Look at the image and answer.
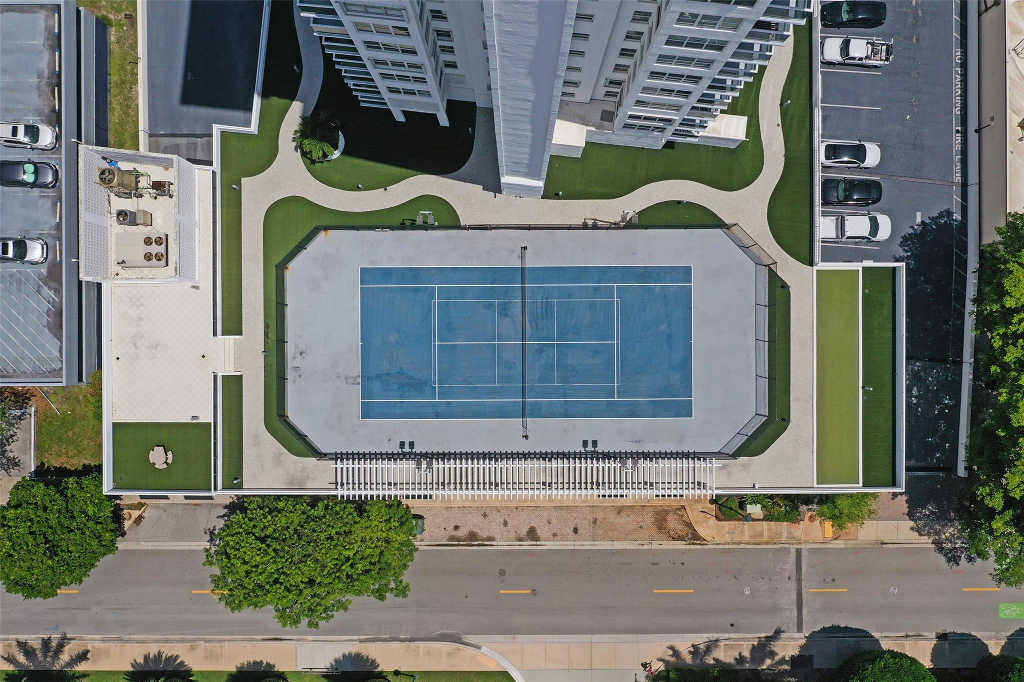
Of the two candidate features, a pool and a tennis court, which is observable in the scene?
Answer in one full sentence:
The one in the frame is a tennis court.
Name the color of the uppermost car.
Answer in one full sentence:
From above, the uppermost car appears black.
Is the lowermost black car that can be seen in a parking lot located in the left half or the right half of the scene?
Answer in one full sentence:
You can find the lowermost black car that can be seen in a parking lot on the right side of the picture.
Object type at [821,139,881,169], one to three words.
car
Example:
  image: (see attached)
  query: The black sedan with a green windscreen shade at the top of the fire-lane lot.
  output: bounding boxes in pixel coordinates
[821,0,885,31]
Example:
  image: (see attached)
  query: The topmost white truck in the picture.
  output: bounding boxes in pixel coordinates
[821,33,897,68]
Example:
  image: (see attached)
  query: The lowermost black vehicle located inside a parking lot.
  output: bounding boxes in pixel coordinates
[821,176,882,207]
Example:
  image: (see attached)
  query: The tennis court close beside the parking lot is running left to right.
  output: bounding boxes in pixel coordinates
[287,229,766,454]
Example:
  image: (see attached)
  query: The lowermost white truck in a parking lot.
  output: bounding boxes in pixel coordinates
[821,211,892,244]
